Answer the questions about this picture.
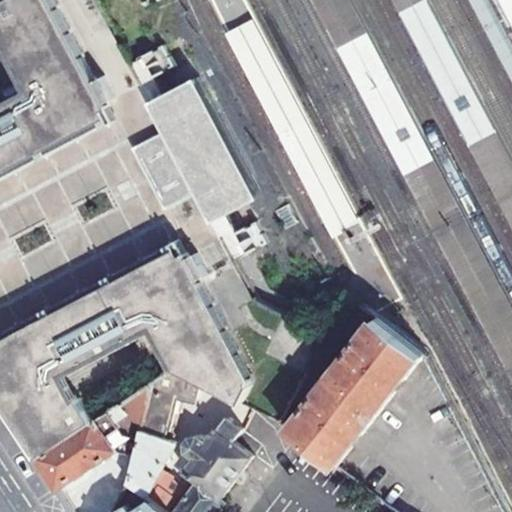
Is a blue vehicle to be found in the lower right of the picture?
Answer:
No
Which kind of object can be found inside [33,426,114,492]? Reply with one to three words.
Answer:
house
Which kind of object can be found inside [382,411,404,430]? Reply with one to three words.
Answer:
car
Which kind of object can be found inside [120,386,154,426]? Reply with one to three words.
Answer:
shed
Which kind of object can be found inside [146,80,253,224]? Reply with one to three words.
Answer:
building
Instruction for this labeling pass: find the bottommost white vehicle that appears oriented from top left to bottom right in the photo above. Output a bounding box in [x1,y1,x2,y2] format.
[15,456,33,478]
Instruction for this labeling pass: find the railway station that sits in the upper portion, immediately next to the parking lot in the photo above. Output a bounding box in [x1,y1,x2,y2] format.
[214,0,512,379]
